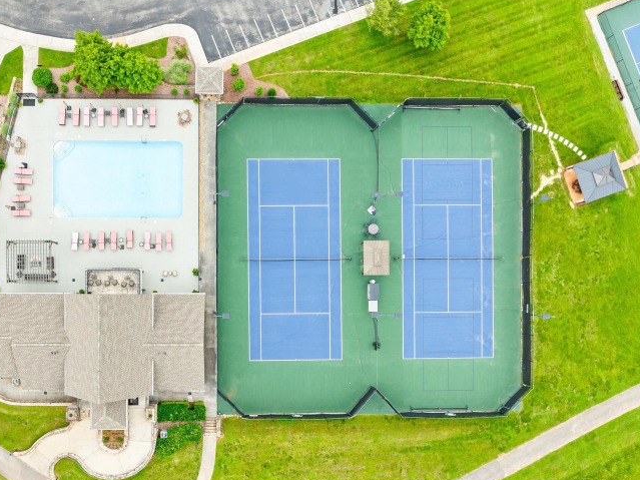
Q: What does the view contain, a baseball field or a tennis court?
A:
tennis court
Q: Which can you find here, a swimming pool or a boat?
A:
swimming pool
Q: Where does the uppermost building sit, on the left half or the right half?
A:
left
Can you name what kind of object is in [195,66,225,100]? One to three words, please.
building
